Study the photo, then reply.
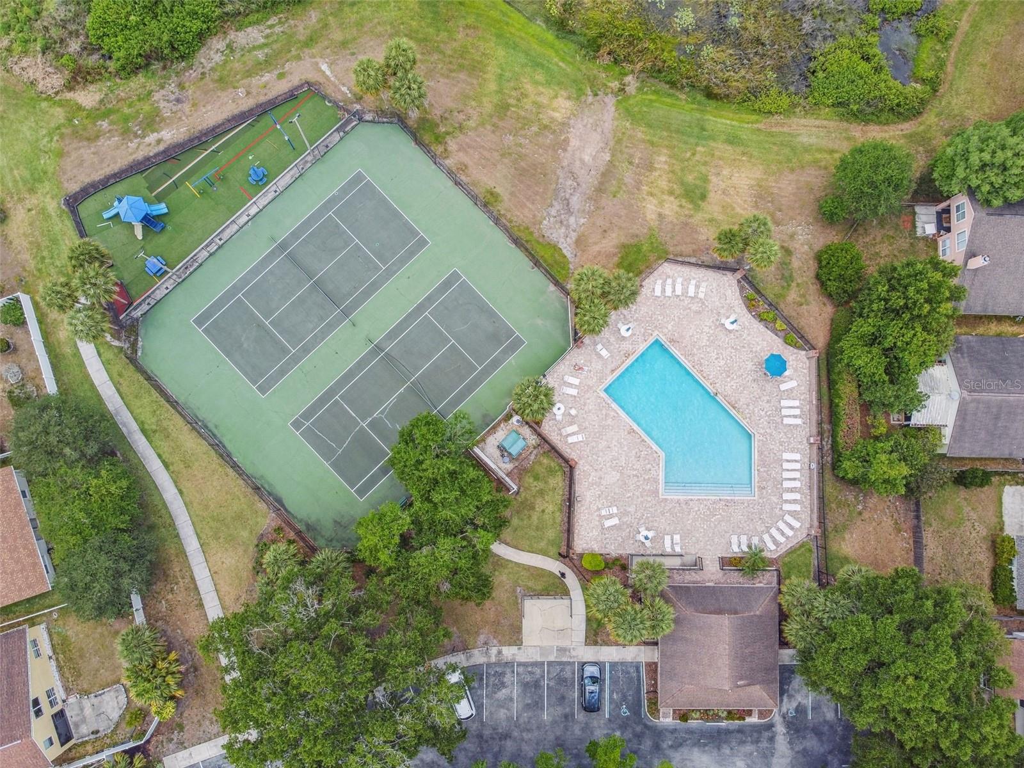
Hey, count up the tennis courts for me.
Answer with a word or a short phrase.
2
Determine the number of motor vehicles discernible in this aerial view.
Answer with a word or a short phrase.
2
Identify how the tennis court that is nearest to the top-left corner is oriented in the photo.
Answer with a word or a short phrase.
on a diagonal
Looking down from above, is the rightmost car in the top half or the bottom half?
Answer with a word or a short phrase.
bottom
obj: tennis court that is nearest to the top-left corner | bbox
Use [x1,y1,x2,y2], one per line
[191,169,430,397]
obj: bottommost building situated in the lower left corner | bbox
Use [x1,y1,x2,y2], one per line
[0,626,74,768]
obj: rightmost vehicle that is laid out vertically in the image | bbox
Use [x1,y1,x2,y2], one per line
[580,662,603,714]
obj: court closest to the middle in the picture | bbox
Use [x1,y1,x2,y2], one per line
[289,268,527,500]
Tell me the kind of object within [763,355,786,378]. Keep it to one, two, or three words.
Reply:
umbrella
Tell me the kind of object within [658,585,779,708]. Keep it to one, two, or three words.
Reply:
building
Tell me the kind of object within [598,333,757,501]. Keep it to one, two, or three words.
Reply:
swimming pool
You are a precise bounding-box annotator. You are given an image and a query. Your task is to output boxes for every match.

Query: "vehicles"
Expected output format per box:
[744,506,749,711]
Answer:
[445,667,476,722]
[580,662,603,714]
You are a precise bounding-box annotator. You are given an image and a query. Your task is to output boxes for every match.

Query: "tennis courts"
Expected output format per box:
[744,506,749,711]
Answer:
[289,268,527,500]
[191,169,430,397]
